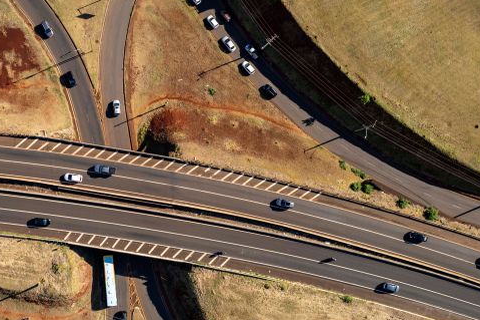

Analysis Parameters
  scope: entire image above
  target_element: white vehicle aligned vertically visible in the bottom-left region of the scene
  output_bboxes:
[102,254,118,305]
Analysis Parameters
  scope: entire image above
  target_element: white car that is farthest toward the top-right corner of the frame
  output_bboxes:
[241,60,256,76]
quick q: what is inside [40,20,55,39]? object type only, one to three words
car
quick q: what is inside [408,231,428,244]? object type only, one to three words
vehicle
